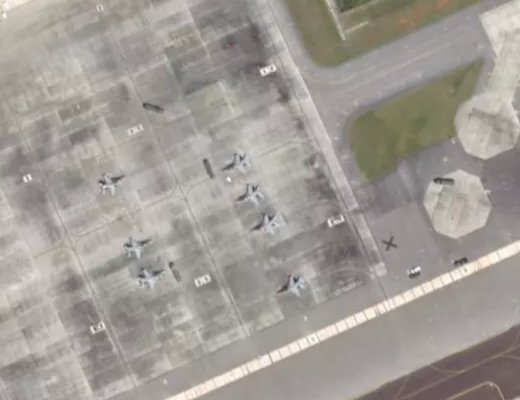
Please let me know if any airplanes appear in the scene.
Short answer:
Yes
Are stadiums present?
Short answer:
No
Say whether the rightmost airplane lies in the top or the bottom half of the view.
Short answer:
bottom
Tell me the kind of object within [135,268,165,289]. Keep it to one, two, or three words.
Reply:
airplane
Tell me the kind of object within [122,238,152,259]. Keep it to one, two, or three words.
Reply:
airplane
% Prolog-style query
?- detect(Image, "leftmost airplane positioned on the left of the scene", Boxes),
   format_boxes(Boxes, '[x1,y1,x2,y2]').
[95,173,125,194]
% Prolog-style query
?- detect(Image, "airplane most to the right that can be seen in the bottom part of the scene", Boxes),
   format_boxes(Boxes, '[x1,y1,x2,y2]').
[278,275,307,296]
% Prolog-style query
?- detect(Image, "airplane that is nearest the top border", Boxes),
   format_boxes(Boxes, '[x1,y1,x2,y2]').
[223,152,253,174]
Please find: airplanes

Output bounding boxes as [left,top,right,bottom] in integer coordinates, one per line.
[252,213,282,234]
[223,152,253,174]
[122,238,152,259]
[95,173,125,194]
[278,275,307,296]
[135,268,165,289]
[237,183,266,205]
